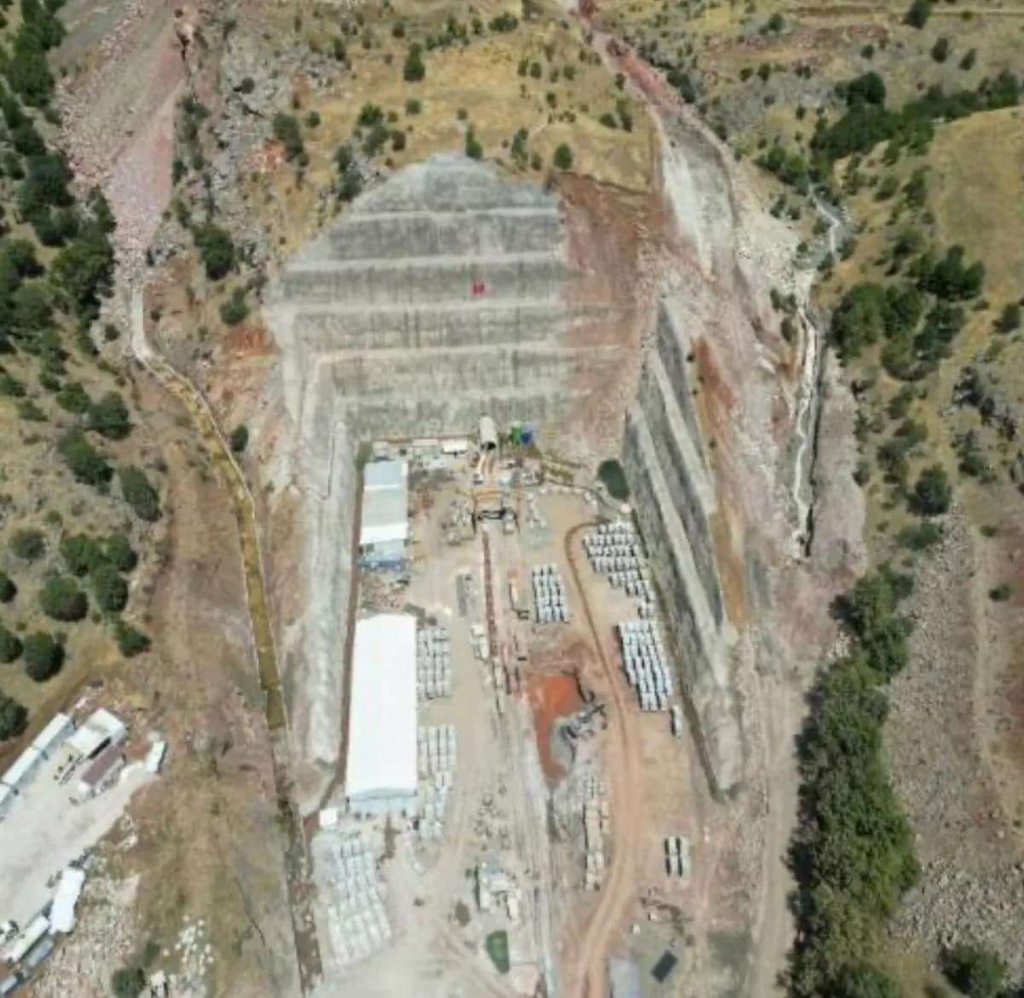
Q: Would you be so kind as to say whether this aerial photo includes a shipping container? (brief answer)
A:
Yes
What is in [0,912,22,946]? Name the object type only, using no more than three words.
truck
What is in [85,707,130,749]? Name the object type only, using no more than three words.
shed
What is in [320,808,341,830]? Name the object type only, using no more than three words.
building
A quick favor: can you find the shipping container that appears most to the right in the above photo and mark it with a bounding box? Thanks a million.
[652,951,677,984]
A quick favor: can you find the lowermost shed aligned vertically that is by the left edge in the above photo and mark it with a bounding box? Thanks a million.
[48,866,90,938]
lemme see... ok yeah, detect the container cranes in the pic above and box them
[466,492,521,532]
